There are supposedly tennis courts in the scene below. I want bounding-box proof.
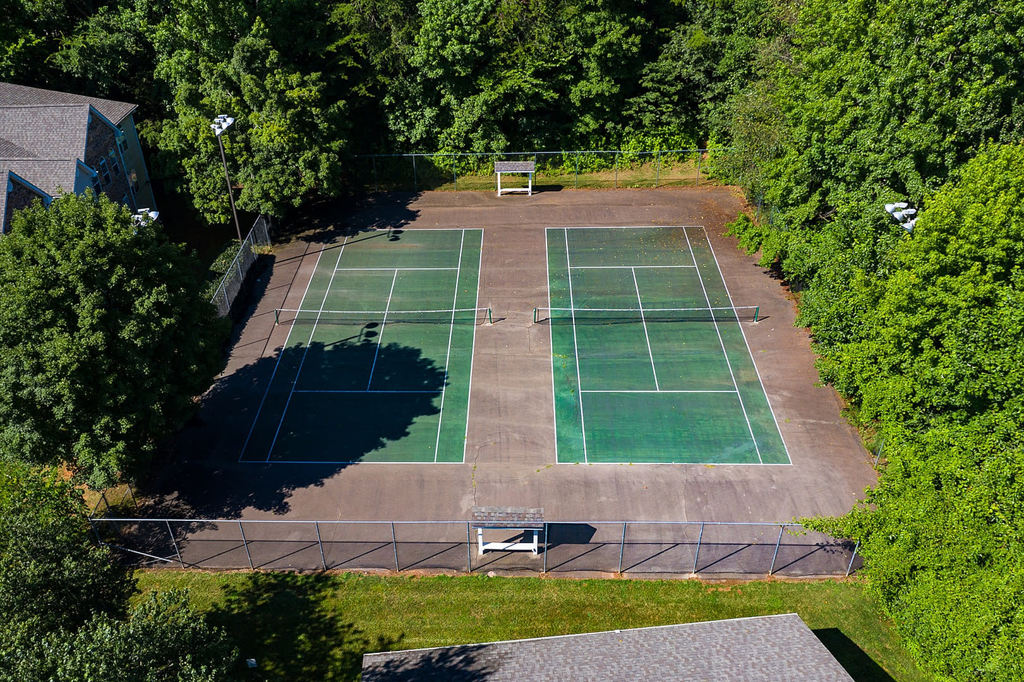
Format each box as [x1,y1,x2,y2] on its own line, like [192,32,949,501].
[545,226,791,464]
[240,229,483,463]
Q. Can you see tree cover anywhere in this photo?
Yes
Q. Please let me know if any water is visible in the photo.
No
